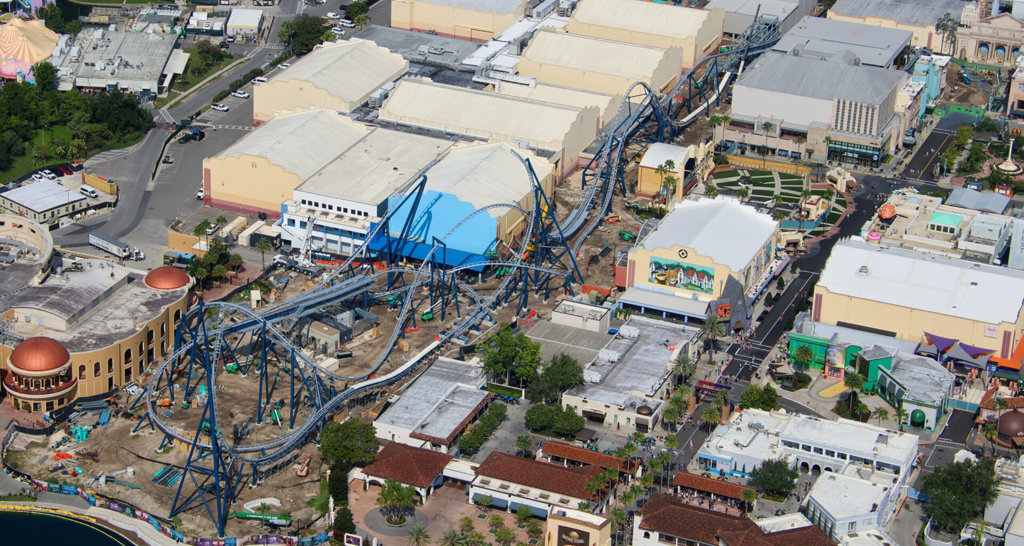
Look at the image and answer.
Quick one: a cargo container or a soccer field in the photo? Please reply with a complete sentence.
I can see a cargo container in this picture.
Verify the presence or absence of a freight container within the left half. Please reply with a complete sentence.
Yes, a freight container shows up within the left half.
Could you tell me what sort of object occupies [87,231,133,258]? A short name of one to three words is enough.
trailer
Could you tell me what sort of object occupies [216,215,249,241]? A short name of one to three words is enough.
shipping container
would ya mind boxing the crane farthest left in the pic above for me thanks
[275,220,322,276]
